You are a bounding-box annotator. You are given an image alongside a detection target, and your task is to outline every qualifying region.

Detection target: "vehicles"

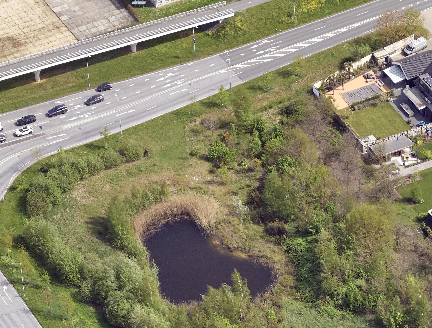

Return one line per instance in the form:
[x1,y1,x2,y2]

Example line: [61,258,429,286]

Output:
[14,124,35,137]
[0,134,7,142]
[86,93,104,105]
[47,103,67,116]
[16,113,37,126]
[94,80,115,93]
[403,34,429,55]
